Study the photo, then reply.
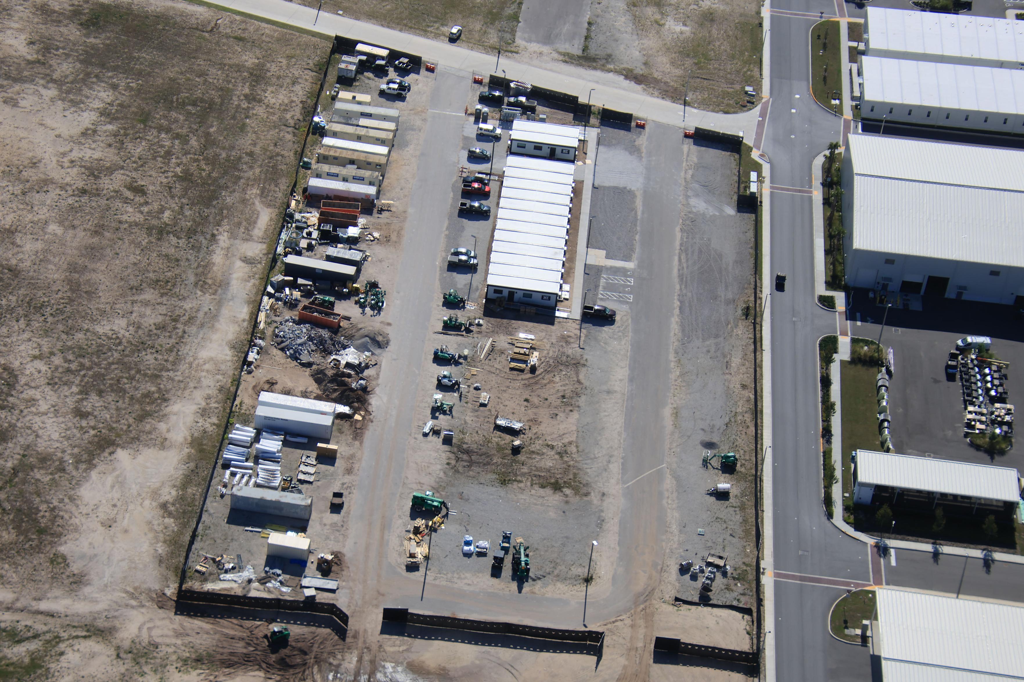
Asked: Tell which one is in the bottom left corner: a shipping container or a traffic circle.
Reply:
shipping container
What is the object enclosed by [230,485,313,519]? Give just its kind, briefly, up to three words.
shipping container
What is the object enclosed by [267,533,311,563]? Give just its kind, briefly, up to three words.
shipping container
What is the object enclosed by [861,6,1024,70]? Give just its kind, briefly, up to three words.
building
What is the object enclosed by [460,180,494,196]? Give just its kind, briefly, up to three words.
vehicle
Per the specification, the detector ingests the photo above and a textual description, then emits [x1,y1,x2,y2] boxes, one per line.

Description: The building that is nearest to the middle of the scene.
[486,156,582,309]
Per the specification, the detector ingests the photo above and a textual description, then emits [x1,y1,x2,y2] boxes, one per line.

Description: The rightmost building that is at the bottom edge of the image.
[880,588,1024,682]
